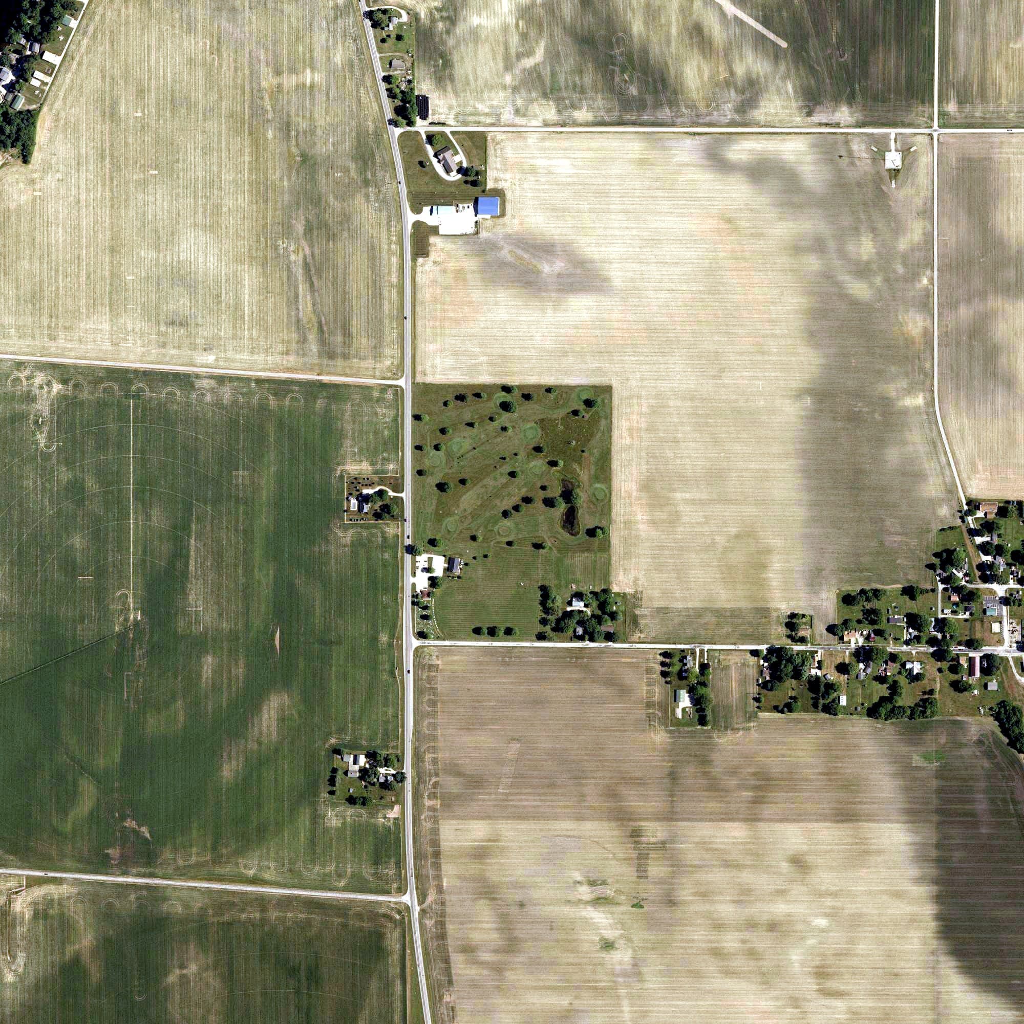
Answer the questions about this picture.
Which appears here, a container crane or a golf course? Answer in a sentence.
Looking from above, you can make out a golf course.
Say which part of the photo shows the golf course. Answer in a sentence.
The golf course sits in the center section of the image.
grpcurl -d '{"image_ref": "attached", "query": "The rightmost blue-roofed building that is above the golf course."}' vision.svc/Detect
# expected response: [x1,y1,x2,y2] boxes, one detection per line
[478,196,498,214]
